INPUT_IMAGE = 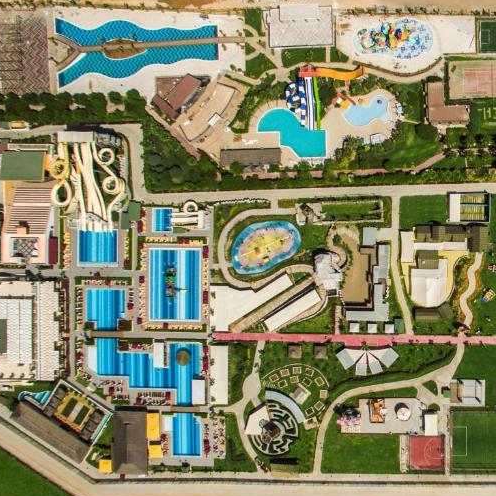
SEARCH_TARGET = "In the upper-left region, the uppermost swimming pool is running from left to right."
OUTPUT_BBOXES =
[53,15,218,47]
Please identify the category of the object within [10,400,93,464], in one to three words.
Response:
building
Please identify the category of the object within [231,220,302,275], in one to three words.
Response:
swimming pool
